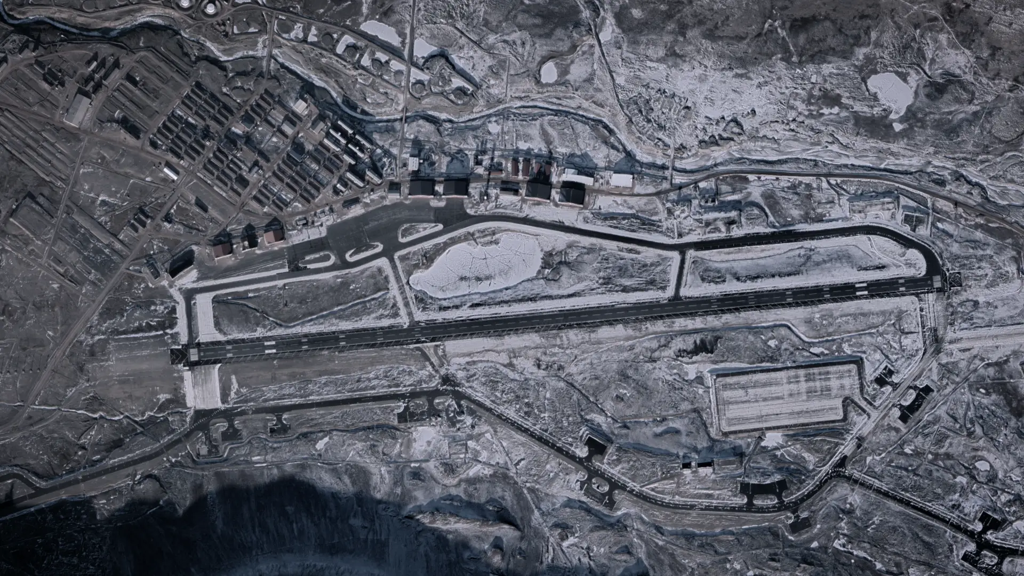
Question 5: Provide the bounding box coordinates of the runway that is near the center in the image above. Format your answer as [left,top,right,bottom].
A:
[184,276,942,361]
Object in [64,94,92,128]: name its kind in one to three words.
building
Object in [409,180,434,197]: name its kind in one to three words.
hangar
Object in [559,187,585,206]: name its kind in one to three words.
hangar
